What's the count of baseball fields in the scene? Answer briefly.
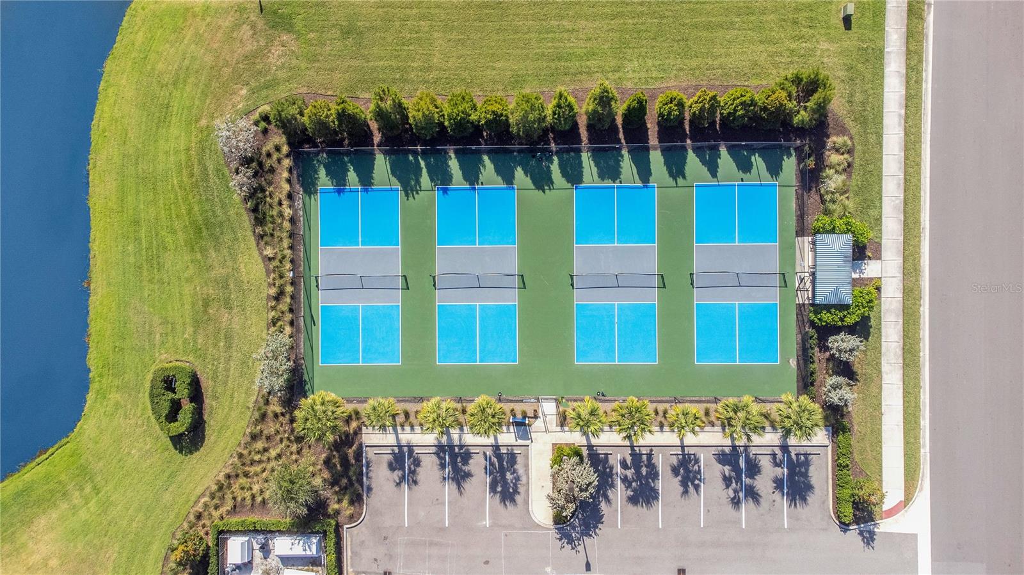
none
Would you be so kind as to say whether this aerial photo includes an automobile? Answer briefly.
No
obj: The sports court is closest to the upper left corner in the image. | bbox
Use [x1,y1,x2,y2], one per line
[318,186,402,366]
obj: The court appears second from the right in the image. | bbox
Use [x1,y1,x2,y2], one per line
[574,184,658,365]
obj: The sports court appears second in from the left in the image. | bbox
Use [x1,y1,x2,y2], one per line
[436,186,518,365]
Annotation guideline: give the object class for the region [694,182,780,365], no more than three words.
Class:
sports court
